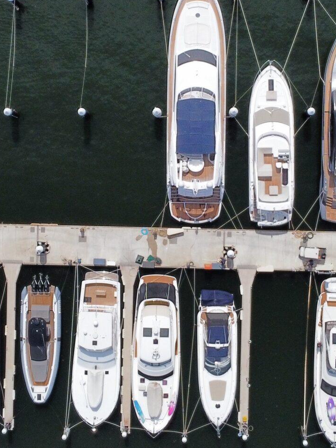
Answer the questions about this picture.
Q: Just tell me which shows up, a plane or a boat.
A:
boat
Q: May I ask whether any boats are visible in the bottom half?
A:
Yes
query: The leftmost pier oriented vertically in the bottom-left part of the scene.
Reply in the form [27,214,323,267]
[2,258,23,432]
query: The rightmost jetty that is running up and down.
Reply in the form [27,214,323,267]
[236,265,257,433]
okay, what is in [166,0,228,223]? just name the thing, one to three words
boat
